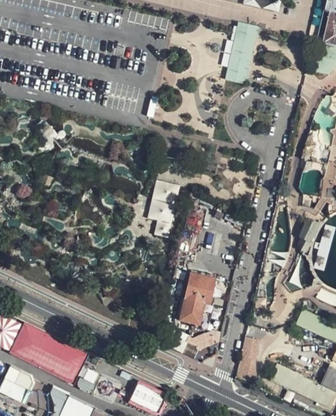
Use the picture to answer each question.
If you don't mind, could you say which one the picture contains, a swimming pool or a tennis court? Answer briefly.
swimming pool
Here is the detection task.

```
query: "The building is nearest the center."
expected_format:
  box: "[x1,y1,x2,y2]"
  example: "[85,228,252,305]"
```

[148,179,178,235]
